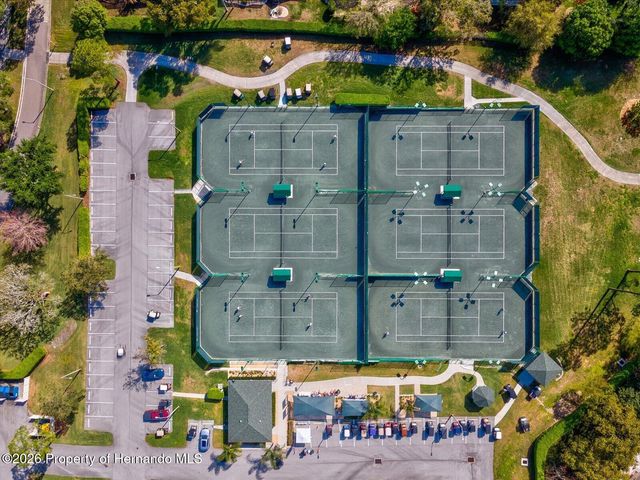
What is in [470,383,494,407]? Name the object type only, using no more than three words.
gazebo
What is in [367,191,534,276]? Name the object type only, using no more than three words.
tennis court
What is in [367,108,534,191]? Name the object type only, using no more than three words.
tennis court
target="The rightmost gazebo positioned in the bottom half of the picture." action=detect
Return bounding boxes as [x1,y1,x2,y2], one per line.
[523,351,562,388]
